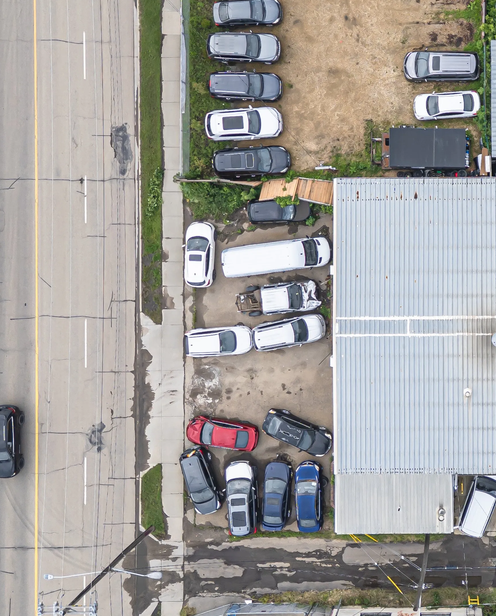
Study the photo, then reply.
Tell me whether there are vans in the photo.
Yes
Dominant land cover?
paved ground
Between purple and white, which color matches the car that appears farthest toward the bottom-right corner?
white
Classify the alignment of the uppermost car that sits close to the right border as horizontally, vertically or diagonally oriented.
horizontally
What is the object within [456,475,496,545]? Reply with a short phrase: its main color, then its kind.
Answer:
white car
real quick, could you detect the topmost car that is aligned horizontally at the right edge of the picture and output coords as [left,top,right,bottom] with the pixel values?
[405,47,478,83]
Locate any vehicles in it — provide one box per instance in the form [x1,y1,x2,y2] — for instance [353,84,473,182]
[246,198,312,231]
[212,143,292,179]
[188,415,261,450]
[456,475,496,545]
[223,458,260,536]
[205,105,284,141]
[252,315,328,353]
[414,88,481,123]
[0,404,25,477]
[260,458,294,531]
[206,29,283,64]
[175,444,225,514]
[181,221,216,288]
[220,234,333,276]
[291,458,326,532]
[262,406,333,457]
[405,47,478,83]
[207,68,284,104]
[182,324,254,361]
[213,0,284,28]
[239,280,325,314]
